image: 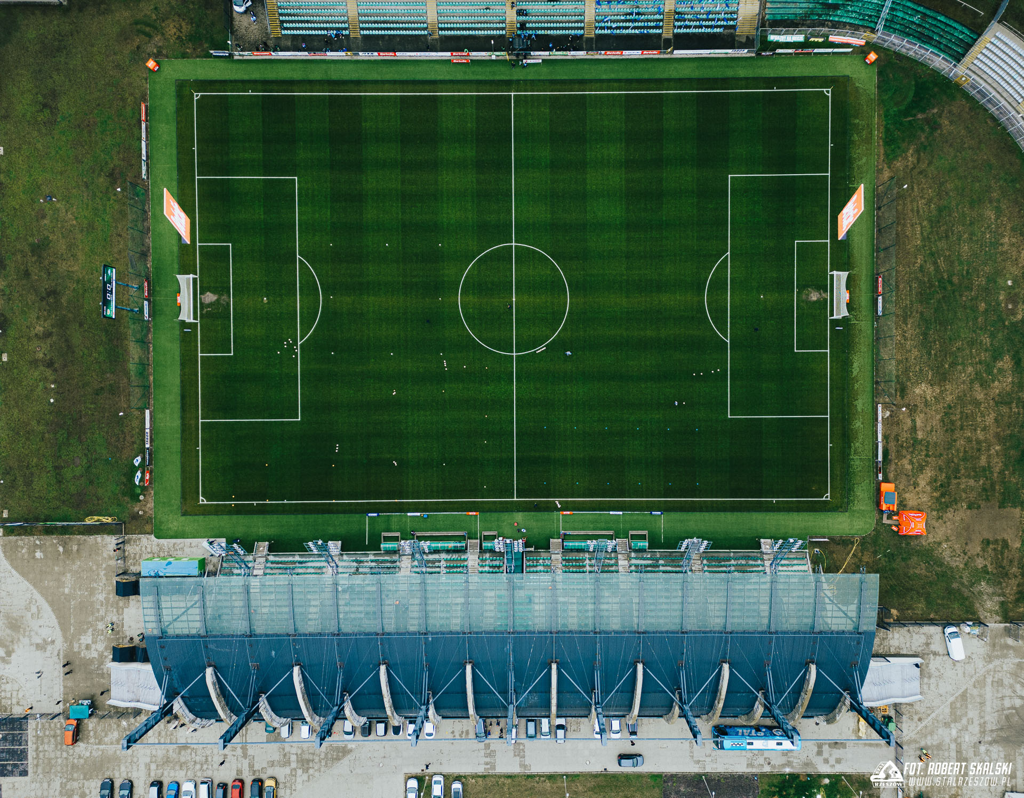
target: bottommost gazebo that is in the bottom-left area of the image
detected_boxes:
[70,700,96,719]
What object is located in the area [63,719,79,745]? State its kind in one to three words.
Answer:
car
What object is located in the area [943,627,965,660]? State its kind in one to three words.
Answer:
car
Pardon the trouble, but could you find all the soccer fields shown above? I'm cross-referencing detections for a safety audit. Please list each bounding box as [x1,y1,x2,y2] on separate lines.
[148,54,877,550]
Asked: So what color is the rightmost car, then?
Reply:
white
